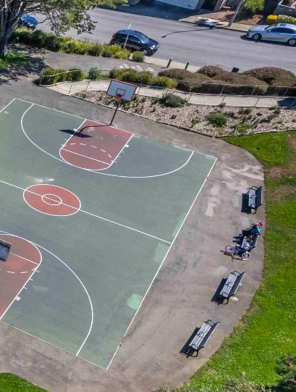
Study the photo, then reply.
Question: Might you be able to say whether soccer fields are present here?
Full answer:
No, no soccer field can be seen from above.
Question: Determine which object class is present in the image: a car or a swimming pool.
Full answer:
The one in the frame is a car.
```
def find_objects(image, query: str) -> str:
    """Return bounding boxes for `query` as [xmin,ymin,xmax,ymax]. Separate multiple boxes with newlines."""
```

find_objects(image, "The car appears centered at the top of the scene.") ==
[108,22,161,52]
